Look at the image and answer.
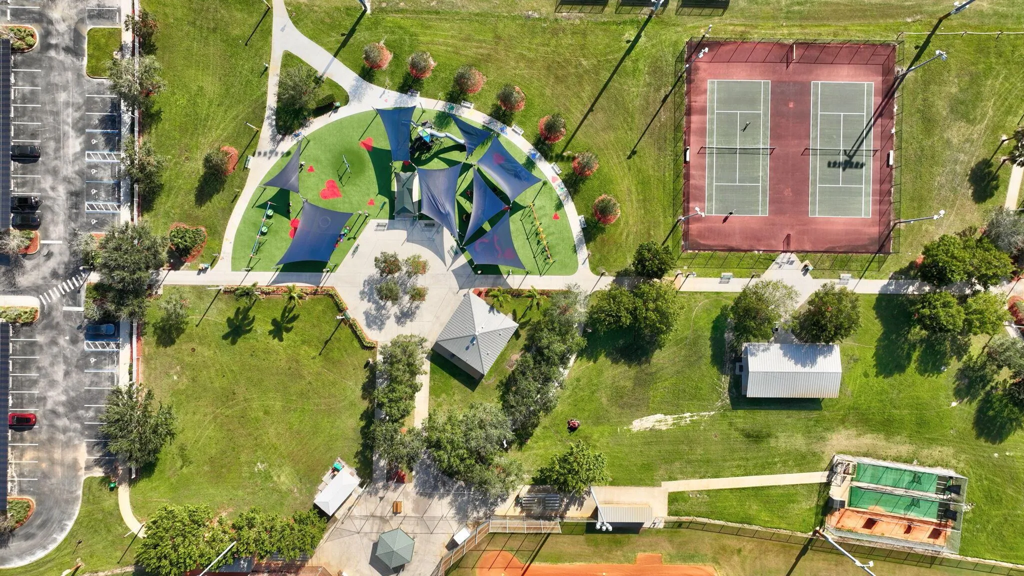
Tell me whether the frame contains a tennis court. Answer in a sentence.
Yes, the picture does show a tennis court.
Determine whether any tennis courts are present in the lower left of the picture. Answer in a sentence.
No, there is no tennis court in the lower left of the picture.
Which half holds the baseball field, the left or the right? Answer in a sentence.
The baseball field is on the right side of the image.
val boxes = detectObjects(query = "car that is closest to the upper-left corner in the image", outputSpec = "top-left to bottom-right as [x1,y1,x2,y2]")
[14,144,43,157]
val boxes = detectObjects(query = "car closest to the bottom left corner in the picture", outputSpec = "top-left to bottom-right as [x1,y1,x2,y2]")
[11,412,39,425]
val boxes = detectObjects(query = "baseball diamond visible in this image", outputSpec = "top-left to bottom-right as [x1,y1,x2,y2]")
[434,518,1024,576]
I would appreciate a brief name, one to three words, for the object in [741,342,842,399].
building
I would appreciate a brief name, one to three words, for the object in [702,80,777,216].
tennis court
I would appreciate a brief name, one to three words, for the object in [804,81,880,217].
tennis court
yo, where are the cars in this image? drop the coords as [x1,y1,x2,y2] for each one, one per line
[15,214,41,226]
[86,323,115,336]
[12,195,41,207]
[14,144,43,157]
[11,412,39,425]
